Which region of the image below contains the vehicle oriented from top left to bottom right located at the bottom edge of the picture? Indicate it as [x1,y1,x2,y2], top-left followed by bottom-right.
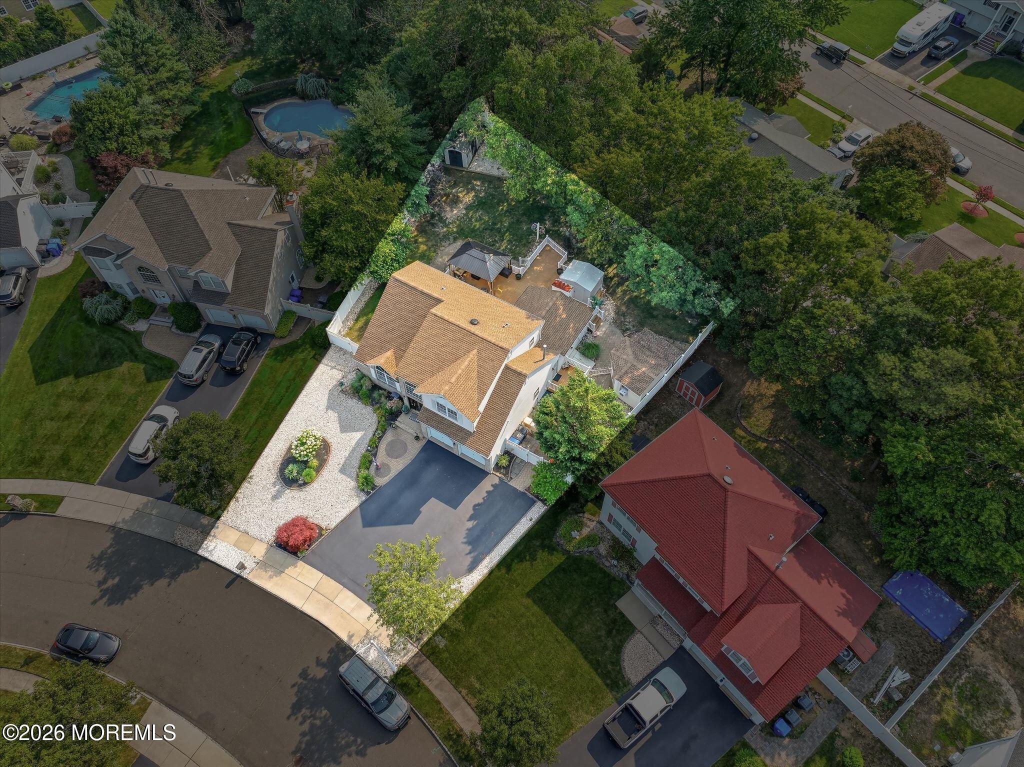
[336,653,415,736]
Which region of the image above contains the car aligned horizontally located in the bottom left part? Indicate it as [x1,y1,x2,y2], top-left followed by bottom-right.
[49,627,131,668]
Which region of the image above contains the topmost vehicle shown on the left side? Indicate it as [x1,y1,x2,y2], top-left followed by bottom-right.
[0,263,36,311]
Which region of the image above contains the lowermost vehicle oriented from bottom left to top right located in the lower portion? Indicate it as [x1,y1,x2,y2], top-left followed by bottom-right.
[599,663,690,755]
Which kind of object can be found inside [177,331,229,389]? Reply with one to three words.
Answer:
car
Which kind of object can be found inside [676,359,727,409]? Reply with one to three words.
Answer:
shed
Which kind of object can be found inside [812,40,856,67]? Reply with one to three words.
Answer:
car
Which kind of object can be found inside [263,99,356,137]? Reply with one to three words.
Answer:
swimming pool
